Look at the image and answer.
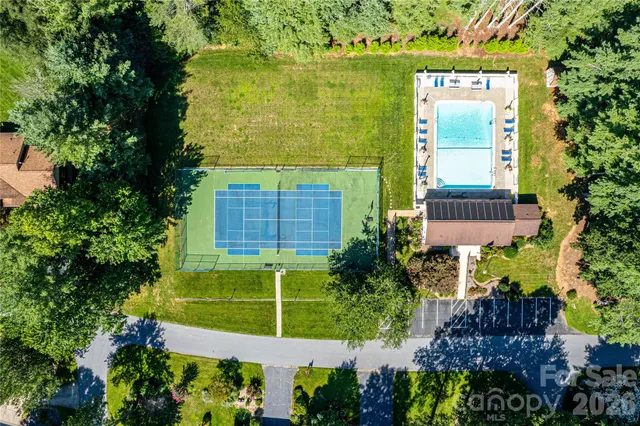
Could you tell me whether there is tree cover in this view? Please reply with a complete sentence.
Yes, tree cover shows up in the scene.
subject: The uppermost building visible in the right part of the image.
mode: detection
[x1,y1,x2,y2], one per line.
[425,199,542,247]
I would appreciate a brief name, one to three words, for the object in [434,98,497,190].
swimming pool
